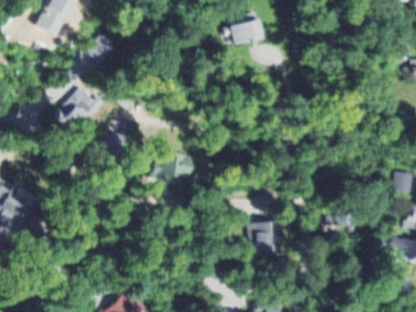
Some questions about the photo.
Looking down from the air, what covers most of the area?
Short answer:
trees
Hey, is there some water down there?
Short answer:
No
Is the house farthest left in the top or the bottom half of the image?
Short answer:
bottom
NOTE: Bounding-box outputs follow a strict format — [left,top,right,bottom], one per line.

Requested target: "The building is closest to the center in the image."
[154,154,192,180]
